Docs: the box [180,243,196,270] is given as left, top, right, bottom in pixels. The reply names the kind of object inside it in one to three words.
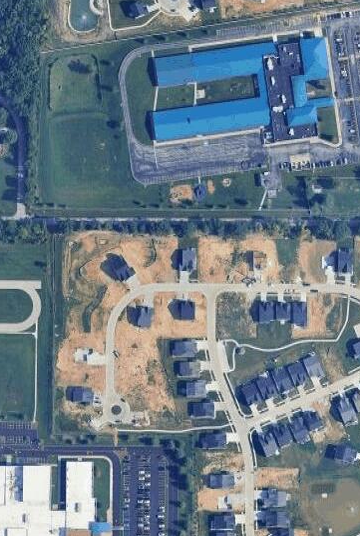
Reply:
house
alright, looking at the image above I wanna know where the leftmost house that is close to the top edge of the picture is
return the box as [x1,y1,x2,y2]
[118,0,148,19]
